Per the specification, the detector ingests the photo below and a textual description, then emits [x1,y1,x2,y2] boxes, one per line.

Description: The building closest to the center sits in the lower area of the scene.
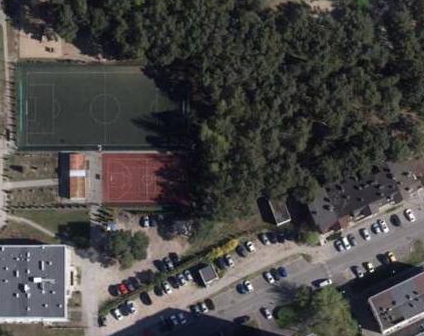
[269,197,290,227]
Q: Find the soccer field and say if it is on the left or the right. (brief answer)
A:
left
